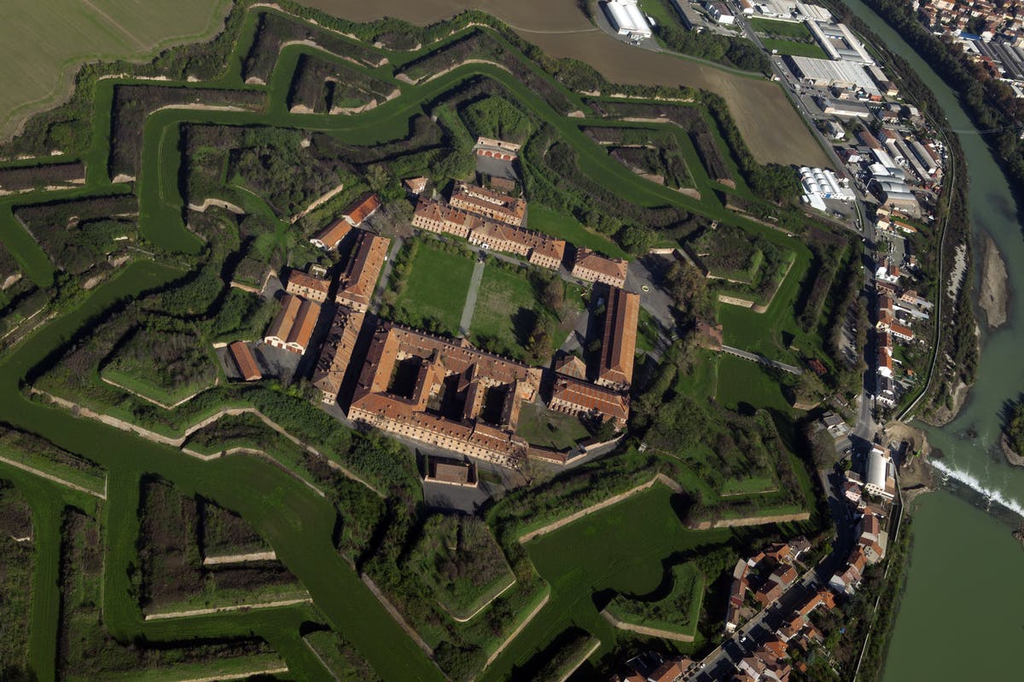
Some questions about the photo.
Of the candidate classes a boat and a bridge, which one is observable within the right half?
bridge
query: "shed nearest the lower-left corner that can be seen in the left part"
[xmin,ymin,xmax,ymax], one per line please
[226,341,263,385]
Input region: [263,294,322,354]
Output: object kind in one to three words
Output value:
building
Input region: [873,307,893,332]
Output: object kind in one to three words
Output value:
house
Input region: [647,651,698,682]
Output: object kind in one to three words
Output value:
house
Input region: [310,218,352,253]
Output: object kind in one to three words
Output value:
shed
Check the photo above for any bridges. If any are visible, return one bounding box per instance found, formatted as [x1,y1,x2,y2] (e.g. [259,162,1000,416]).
[722,339,812,375]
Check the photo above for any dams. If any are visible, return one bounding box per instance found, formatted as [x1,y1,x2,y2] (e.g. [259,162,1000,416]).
[927,459,1024,520]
